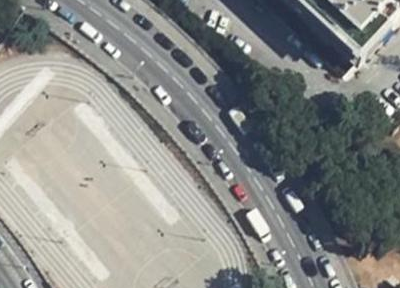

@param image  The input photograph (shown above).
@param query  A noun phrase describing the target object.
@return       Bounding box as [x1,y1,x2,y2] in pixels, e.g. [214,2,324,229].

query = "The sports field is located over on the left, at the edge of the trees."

[0,68,178,280]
